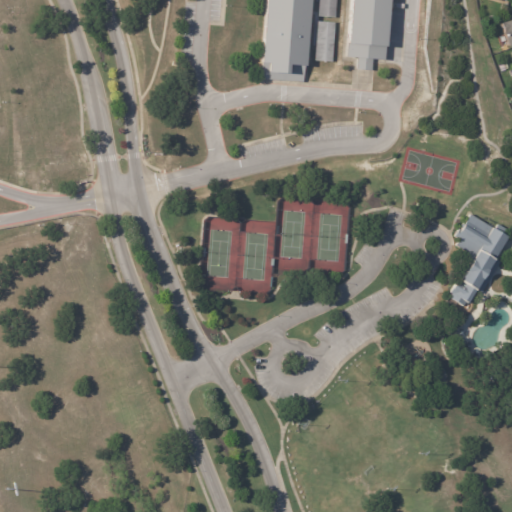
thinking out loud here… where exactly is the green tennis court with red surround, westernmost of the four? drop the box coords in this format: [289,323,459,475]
[200,218,240,290]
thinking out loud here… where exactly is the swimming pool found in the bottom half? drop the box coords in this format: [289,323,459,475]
[467,301,512,354]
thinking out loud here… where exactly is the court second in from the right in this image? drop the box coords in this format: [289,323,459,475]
[310,204,350,272]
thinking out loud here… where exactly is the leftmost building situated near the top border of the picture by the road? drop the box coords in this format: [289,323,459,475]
[262,0,314,82]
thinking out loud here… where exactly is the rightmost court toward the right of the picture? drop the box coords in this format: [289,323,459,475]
[400,148,460,193]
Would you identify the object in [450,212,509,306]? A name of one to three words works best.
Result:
building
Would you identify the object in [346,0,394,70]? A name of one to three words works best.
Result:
building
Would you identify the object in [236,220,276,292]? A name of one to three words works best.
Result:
tennis court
